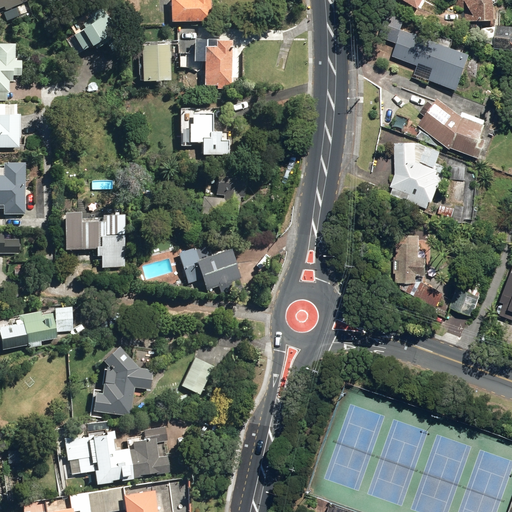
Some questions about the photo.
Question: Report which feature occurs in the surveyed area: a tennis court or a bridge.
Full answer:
I can see a tennis court in this picture.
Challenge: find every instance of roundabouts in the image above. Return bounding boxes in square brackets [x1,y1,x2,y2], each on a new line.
[286,299,319,332]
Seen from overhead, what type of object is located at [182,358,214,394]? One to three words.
shed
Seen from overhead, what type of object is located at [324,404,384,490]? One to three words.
tennis court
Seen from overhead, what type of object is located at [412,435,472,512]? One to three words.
tennis court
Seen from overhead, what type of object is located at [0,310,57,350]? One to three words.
house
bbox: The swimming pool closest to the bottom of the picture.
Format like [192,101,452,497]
[142,258,178,281]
